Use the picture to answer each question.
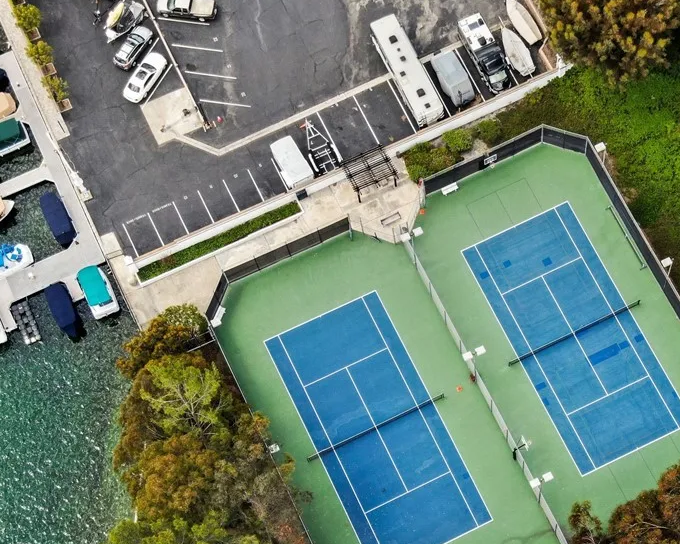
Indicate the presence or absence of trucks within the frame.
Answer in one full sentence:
Yes, the frame does contain a truck.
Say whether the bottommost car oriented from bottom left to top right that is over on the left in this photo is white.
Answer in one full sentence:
Yes, white is the color of the bottommost car oriented from bottom left to top right that is over on the left.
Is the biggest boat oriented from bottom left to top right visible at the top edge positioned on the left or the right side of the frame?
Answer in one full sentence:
The biggest boat oriented from bottom left to top right visible at the top edge appears in the left half of the scene.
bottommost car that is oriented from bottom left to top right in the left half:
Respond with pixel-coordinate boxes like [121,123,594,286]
[122,55,169,103]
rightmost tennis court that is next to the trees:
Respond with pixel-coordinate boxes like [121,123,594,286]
[409,144,680,544]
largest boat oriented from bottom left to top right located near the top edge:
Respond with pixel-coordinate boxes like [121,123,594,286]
[105,3,150,47]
